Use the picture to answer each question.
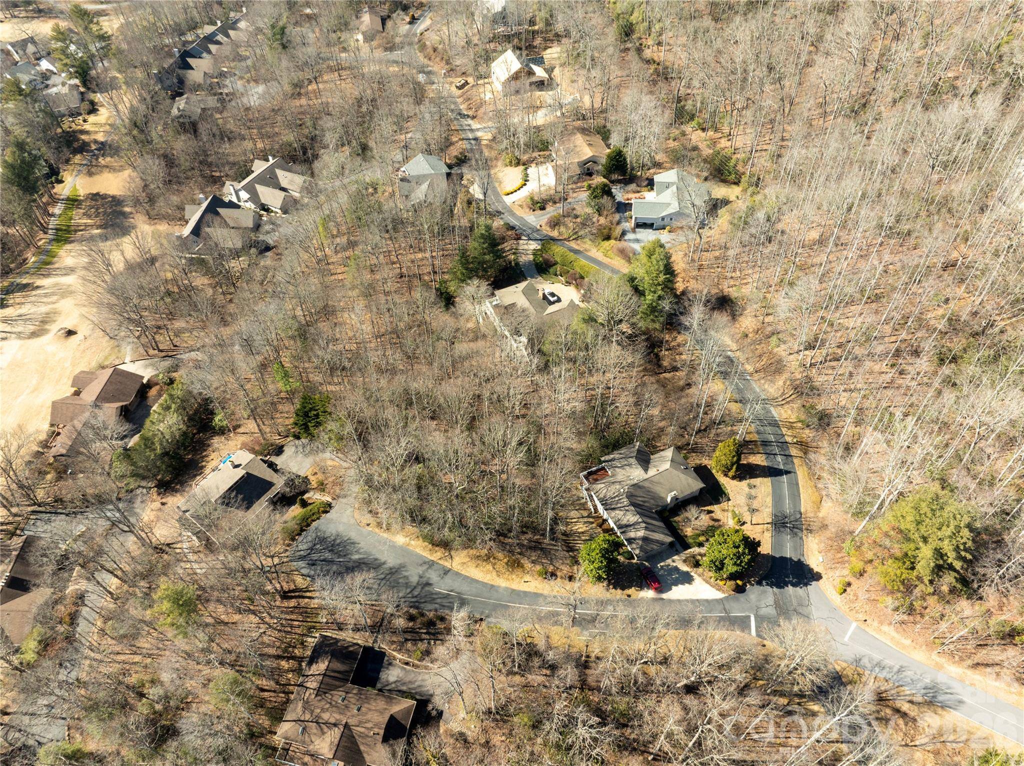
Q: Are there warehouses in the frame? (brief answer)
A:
No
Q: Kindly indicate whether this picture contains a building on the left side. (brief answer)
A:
Yes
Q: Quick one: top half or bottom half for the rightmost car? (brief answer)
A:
bottom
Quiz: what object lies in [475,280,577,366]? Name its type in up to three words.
house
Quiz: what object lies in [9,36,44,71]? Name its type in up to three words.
house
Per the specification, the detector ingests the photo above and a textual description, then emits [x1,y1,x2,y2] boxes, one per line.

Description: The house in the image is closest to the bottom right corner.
[579,442,705,567]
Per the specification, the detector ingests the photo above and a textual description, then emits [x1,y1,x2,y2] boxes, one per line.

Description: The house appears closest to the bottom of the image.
[271,634,416,766]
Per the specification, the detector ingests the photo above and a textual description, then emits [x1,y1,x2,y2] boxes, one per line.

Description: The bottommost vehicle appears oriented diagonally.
[638,564,663,591]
